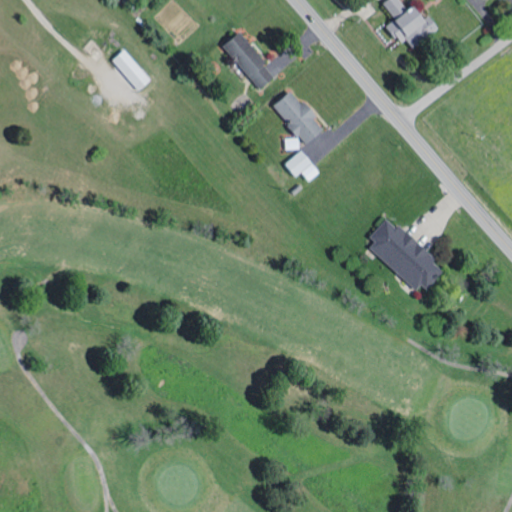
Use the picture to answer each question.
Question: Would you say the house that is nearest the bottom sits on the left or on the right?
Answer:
right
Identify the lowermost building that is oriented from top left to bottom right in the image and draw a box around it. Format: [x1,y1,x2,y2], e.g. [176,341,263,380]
[370,220,442,290]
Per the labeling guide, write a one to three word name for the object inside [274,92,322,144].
house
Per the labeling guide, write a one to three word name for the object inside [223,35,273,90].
house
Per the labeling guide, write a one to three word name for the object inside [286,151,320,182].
building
